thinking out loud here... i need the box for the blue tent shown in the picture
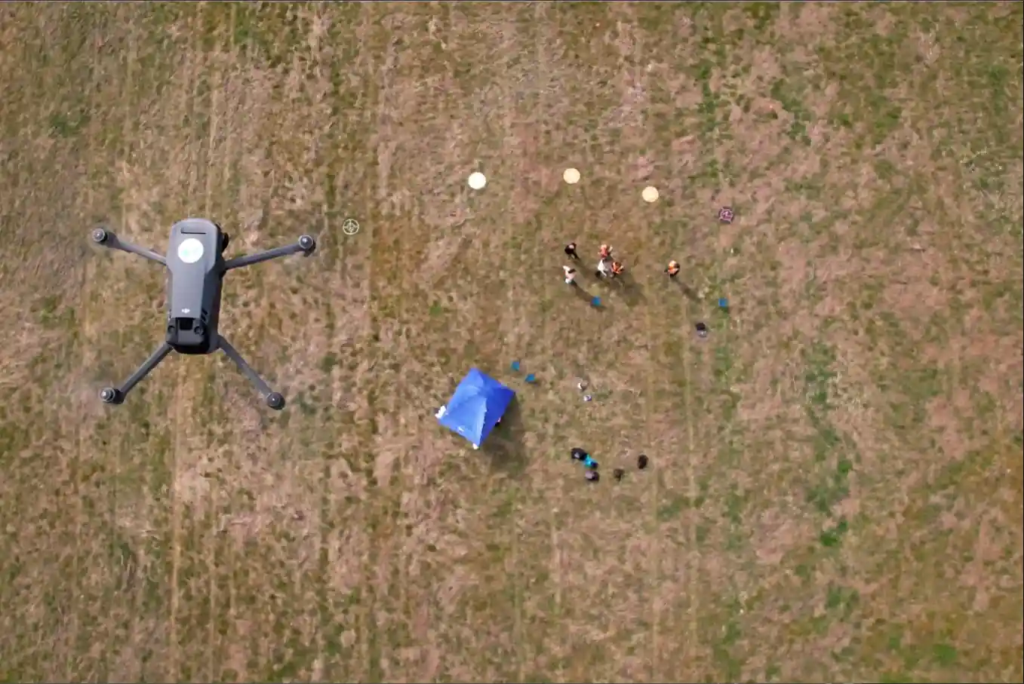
[438,368,516,450]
